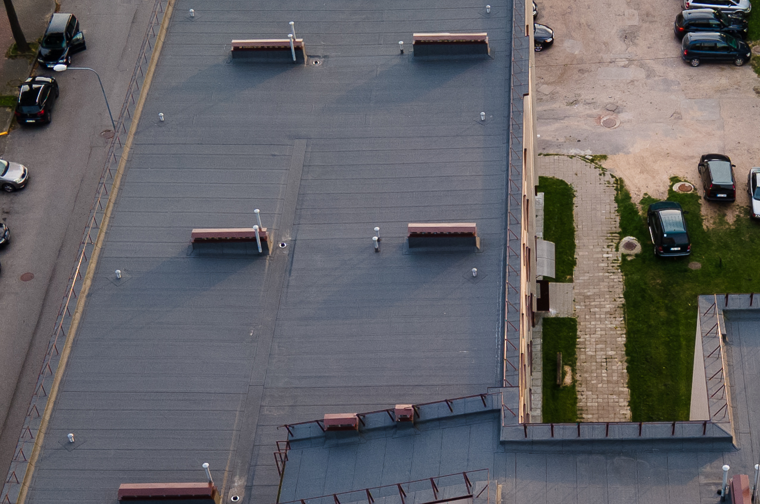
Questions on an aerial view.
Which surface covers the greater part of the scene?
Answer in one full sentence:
Most of the picture is covered by buildings.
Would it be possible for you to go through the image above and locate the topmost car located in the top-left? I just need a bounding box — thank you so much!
[30,1,91,63]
